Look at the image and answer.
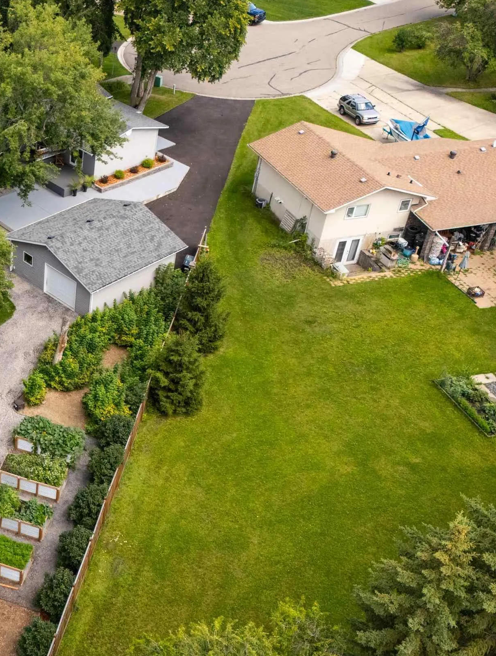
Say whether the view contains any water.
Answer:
No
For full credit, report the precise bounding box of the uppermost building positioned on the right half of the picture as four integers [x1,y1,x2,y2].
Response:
[247,122,496,265]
